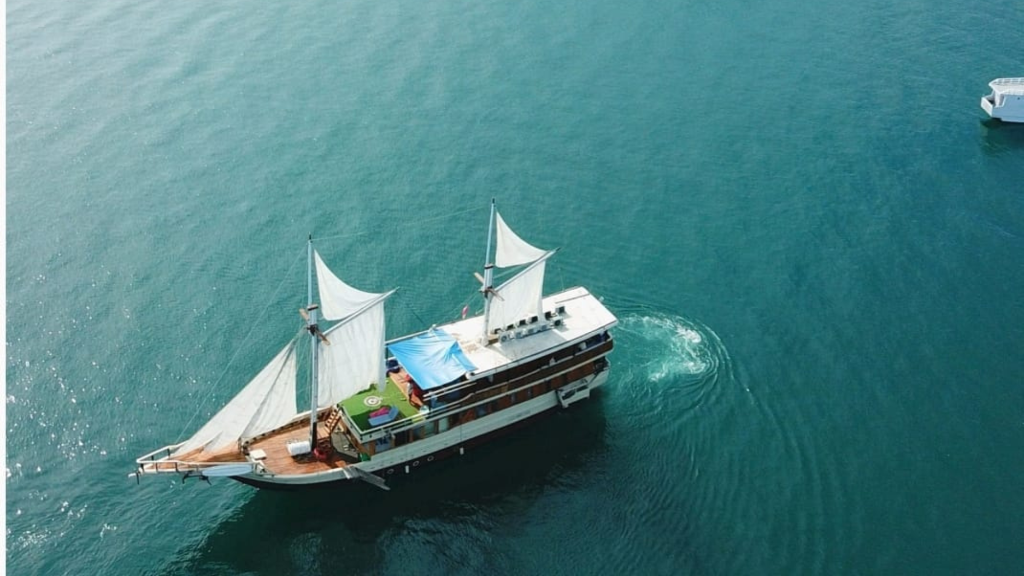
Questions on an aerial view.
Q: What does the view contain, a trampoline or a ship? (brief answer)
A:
ship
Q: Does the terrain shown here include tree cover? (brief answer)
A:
No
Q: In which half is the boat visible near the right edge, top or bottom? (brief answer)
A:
top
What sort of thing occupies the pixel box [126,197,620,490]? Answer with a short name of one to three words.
ship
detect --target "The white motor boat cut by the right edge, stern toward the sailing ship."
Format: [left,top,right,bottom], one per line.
[983,74,1024,121]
